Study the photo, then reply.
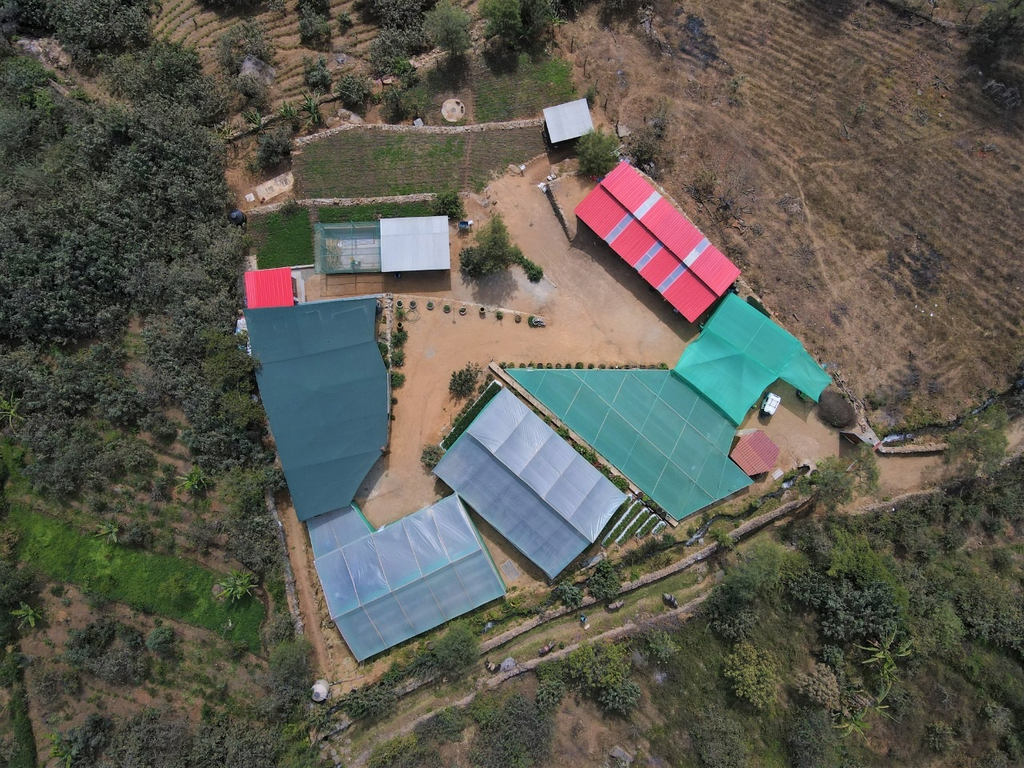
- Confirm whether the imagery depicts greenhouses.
Yes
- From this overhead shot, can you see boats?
No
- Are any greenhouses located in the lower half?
Yes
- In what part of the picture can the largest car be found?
right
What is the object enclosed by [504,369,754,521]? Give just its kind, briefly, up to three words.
house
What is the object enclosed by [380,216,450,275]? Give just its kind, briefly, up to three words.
shed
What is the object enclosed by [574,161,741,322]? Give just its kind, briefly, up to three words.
barn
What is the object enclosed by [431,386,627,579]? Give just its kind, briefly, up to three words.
greenhouse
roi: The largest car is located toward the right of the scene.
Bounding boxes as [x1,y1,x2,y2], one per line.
[755,389,783,420]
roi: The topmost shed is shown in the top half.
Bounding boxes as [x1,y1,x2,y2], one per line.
[543,98,594,152]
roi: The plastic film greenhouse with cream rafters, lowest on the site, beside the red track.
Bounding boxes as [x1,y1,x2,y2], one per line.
[307,490,506,662]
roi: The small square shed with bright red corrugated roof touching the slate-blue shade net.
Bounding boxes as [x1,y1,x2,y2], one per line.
[245,268,299,309]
